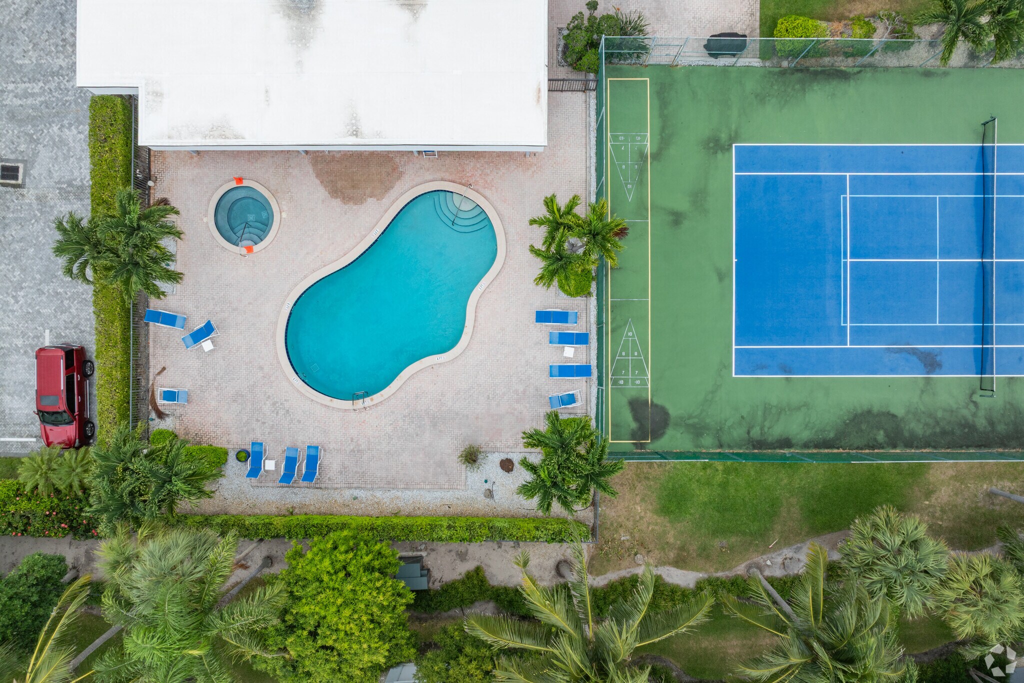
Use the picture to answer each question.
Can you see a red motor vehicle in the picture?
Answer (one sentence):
Yes, looking at the shot, I can spot a red motor vehicle.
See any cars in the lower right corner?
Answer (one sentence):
No, the scene shows no car in the lower right corner.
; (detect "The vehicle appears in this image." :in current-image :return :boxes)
[33,342,97,449]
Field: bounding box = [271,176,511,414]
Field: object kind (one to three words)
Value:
swimming pool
